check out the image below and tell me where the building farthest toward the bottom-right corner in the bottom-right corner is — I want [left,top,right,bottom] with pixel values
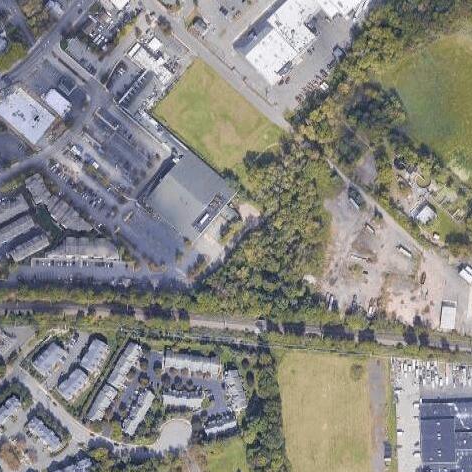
[421,401,472,472]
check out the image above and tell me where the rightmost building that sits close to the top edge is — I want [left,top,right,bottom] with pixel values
[245,0,357,86]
